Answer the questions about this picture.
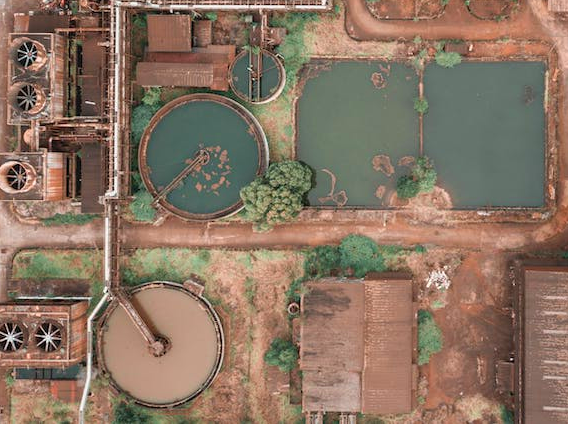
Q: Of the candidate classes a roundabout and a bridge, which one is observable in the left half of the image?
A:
bridge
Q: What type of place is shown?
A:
industrial area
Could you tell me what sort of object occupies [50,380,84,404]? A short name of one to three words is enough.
shed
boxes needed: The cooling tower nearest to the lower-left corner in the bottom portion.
[0,298,90,363]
